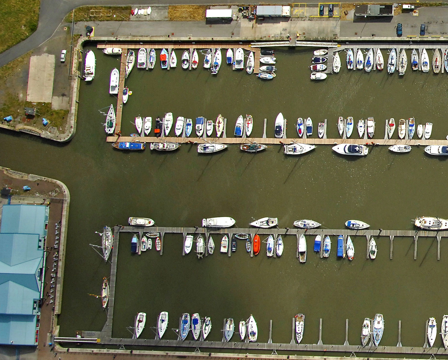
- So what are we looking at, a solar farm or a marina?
marina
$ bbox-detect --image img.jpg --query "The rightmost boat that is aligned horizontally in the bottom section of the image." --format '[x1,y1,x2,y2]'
[414,216,448,230]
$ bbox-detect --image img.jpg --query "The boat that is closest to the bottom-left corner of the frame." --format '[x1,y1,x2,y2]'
[91,279,110,308]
